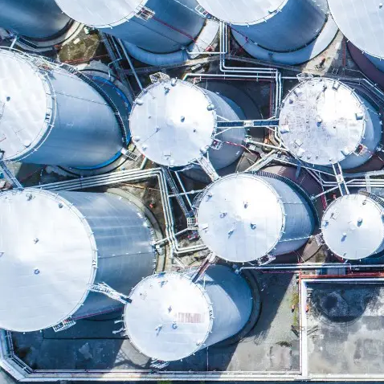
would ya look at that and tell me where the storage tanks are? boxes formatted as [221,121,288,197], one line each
[125,67,264,189]
[187,0,338,65]
[183,163,328,270]
[51,0,222,69]
[0,0,76,51]
[0,40,139,178]
[275,65,384,184]
[327,0,384,91]
[0,178,170,339]
[121,252,264,373]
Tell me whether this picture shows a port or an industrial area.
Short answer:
industrial area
